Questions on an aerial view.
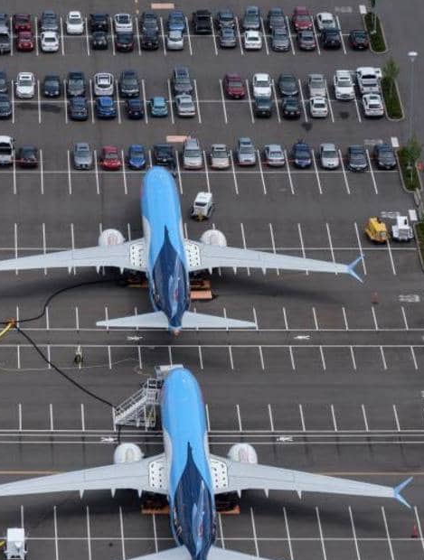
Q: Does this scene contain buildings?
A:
No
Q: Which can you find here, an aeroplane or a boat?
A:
aeroplane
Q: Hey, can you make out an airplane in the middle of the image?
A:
Yes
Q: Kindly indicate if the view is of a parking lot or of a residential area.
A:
parking lot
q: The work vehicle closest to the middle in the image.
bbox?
[190,191,214,222]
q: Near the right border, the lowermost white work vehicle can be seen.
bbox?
[389,214,413,242]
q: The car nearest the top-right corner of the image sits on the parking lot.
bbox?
[348,25,370,51]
